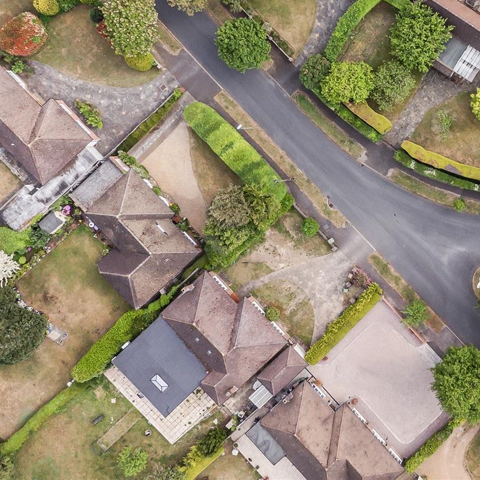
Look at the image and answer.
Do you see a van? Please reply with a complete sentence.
No, there is no van in the image.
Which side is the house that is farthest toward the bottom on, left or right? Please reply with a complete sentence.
The house that is farthest toward the bottom sits on the right side.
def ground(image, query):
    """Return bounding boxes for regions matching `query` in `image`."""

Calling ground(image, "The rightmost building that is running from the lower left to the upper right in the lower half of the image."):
[248,339,310,408]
